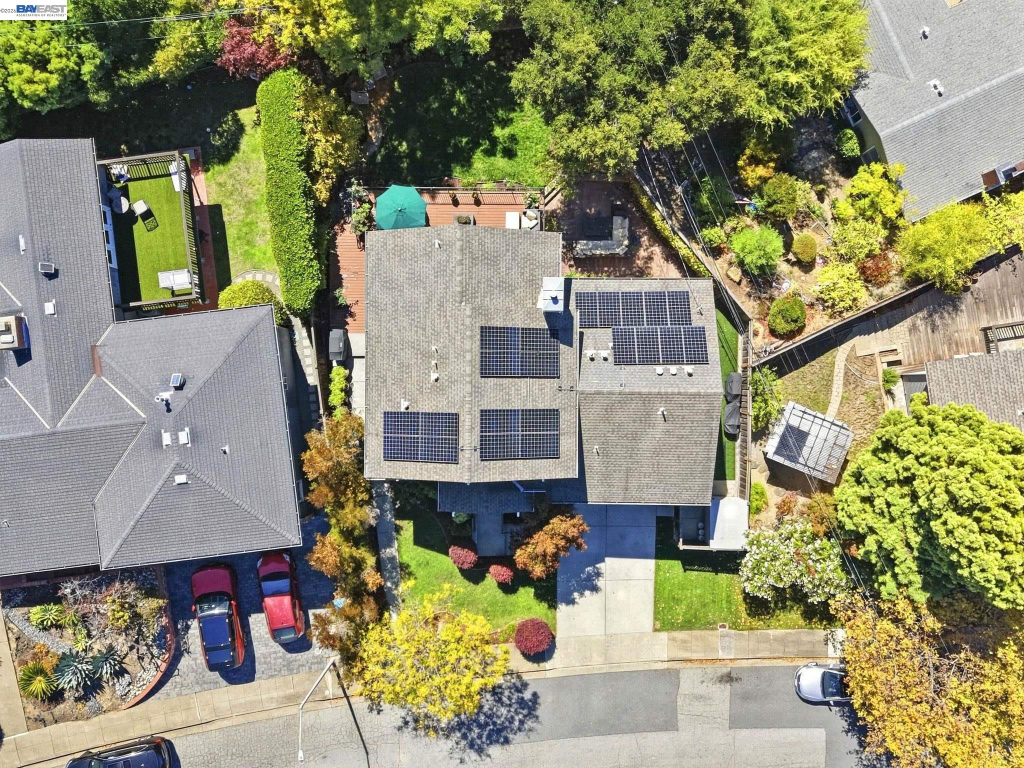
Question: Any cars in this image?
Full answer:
Yes, a car appears in the view.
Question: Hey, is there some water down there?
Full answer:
No, the picture contains no water.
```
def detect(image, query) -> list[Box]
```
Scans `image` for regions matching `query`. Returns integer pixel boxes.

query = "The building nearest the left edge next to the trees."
[0,137,313,579]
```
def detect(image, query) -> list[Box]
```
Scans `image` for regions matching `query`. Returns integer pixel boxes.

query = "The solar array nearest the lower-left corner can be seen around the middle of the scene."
[383,411,458,464]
